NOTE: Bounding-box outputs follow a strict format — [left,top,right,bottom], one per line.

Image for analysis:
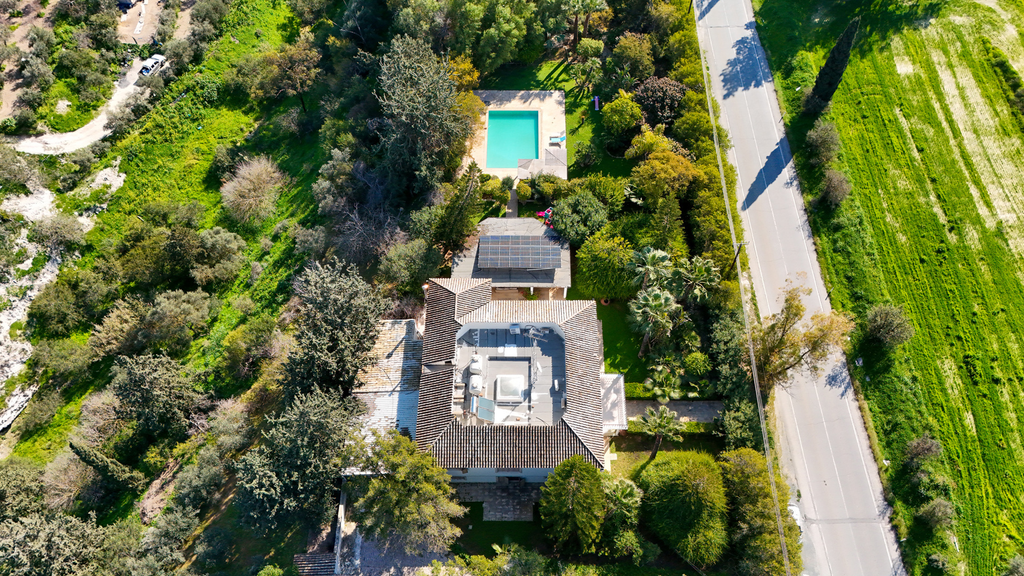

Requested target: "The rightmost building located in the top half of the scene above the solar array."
[518,149,568,190]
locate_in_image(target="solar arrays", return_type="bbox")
[478,235,562,272]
